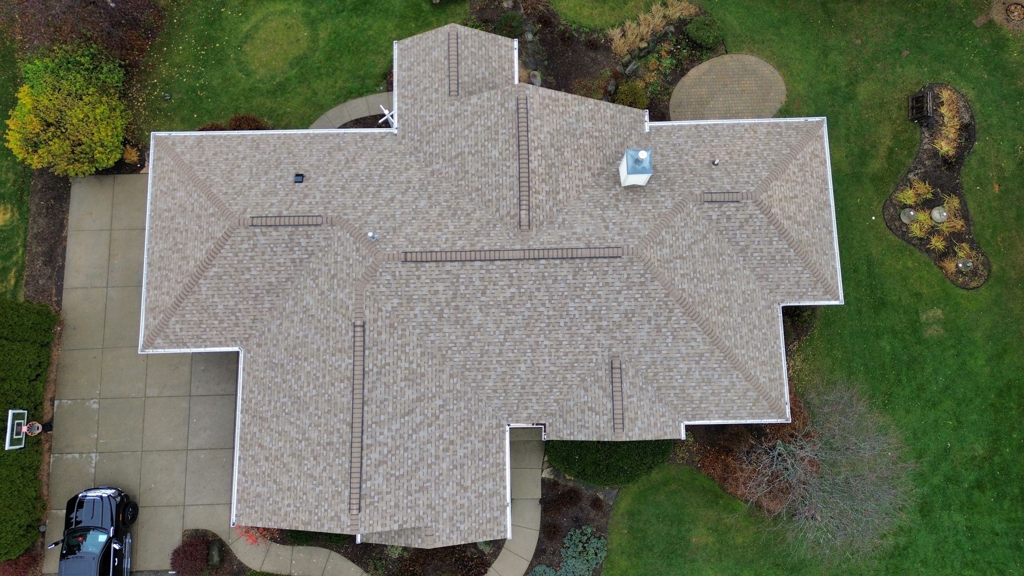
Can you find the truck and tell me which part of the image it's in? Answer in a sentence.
The truck appears toward the bottom left of the photo.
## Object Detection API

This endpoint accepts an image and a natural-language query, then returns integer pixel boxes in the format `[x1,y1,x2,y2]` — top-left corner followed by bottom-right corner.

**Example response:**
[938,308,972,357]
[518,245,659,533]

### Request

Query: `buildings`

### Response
[138,23,844,548]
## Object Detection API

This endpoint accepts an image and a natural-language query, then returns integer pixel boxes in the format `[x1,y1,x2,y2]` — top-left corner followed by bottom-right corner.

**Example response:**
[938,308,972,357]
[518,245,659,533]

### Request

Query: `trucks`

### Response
[45,485,137,576]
